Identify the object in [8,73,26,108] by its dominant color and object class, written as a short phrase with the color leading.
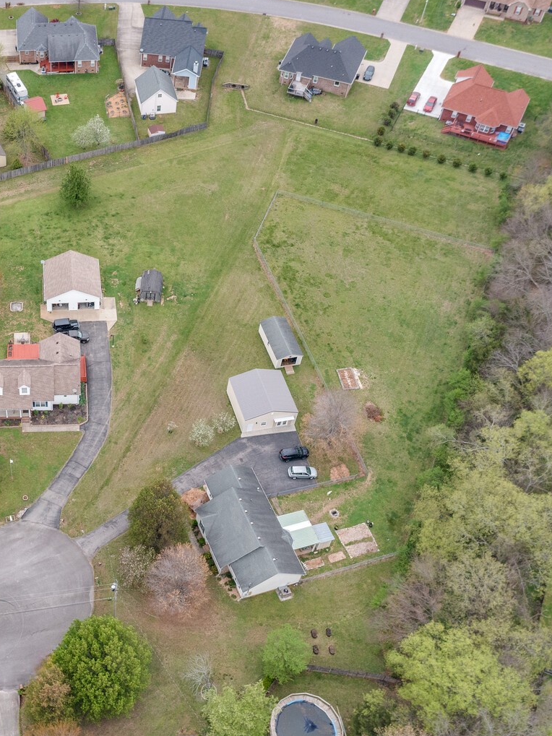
white camper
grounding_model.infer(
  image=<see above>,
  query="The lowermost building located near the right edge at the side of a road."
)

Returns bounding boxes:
[439,65,534,135]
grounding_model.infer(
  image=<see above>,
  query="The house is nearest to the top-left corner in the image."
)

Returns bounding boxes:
[15,5,96,71]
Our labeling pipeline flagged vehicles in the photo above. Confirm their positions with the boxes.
[59,328,90,344]
[278,446,310,462]
[362,65,373,79]
[53,317,80,331]
[424,97,436,112]
[8,73,26,108]
[287,465,318,480]
[406,94,420,107]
